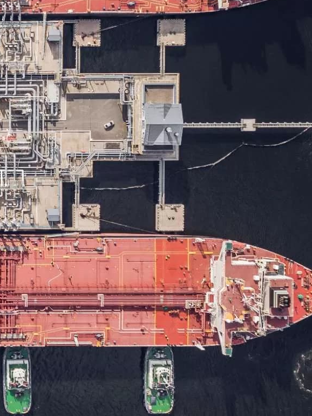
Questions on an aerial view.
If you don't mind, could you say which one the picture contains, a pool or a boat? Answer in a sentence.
Visible in the photo is a boat.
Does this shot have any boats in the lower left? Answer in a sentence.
Yes, in the lower left there is a boat.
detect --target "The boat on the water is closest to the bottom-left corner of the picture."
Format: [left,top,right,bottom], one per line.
[2,346,32,415]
